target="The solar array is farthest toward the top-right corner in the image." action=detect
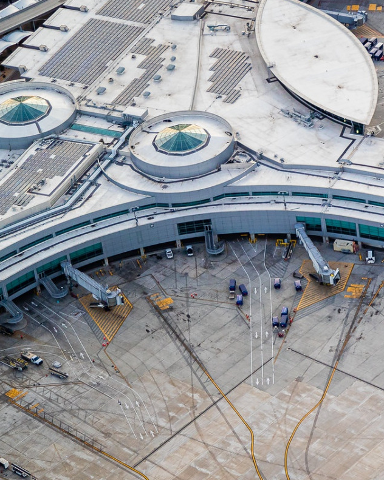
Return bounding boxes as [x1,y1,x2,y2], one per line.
[206,47,254,104]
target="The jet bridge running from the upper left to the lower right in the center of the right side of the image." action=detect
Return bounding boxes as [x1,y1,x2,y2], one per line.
[295,227,342,287]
